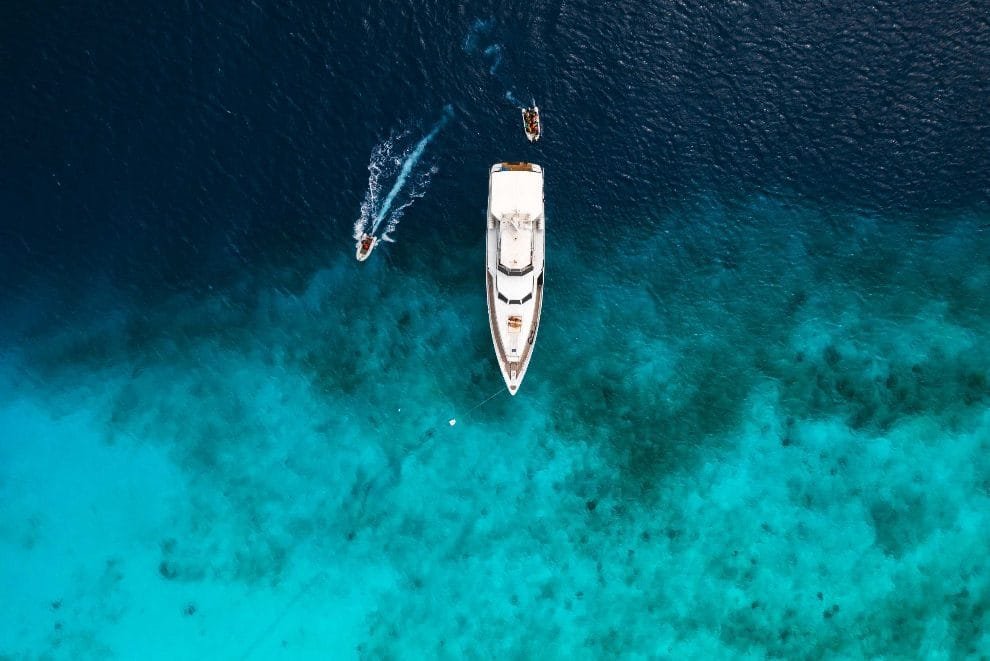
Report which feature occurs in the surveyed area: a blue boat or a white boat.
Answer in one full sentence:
There is a white boat in the scene.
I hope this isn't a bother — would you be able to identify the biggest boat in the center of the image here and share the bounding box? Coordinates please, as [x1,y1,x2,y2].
[486,163,546,395]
